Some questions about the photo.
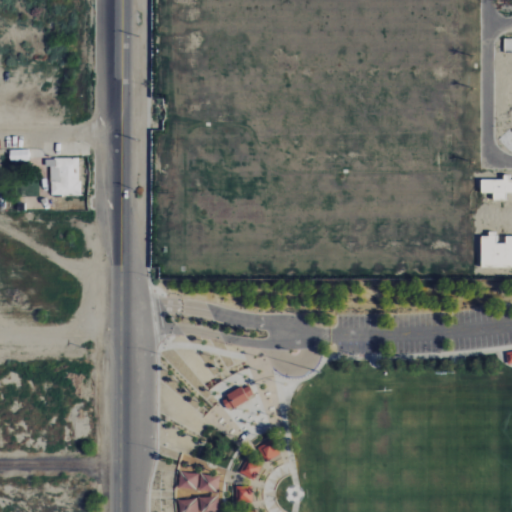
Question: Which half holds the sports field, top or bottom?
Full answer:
It is in the bottom half that the sports field appears.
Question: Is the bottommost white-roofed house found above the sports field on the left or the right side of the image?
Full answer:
The bottommost white-roofed house found above the sports field sits on the right side.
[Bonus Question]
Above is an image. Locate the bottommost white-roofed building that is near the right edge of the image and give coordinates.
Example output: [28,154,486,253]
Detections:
[480,231,512,268]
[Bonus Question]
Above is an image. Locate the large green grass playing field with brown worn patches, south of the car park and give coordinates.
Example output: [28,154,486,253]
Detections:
[290,349,512,512]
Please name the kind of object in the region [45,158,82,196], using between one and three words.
building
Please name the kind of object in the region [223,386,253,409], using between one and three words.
building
